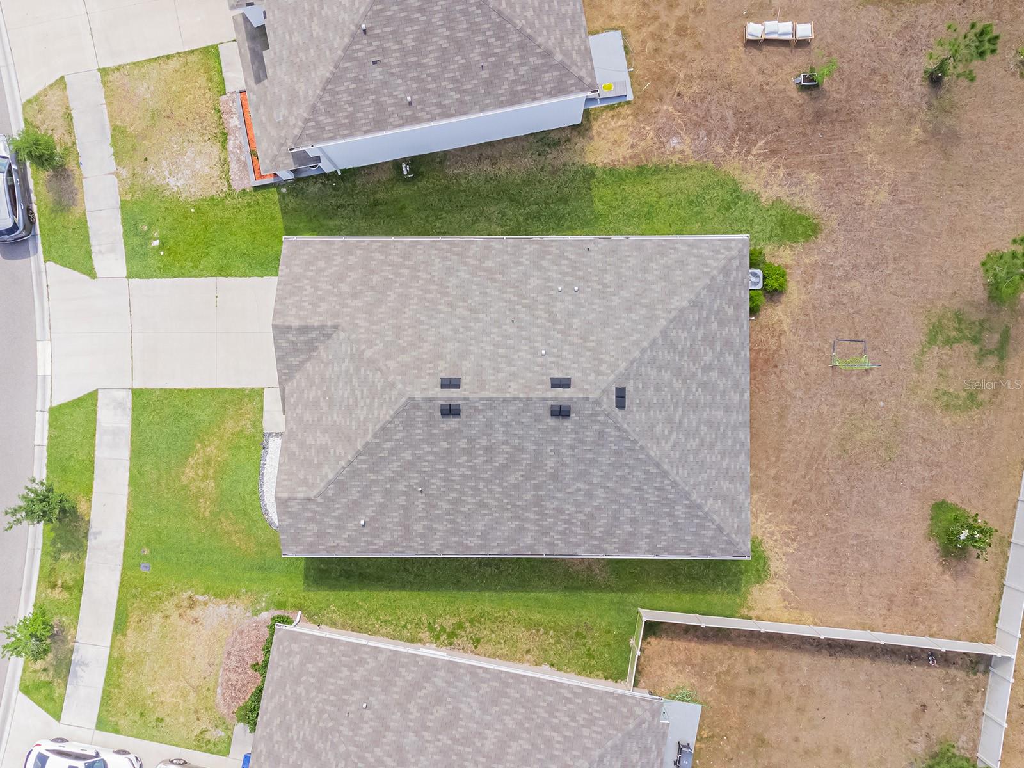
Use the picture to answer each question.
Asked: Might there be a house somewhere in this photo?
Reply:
Yes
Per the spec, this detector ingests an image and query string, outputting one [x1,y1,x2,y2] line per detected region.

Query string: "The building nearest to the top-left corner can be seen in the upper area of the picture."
[228,0,599,177]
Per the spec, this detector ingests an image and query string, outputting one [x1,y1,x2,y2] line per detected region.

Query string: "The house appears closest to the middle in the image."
[273,236,751,557]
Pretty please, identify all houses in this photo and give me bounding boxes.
[273,236,751,557]
[228,0,599,177]
[249,604,670,768]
